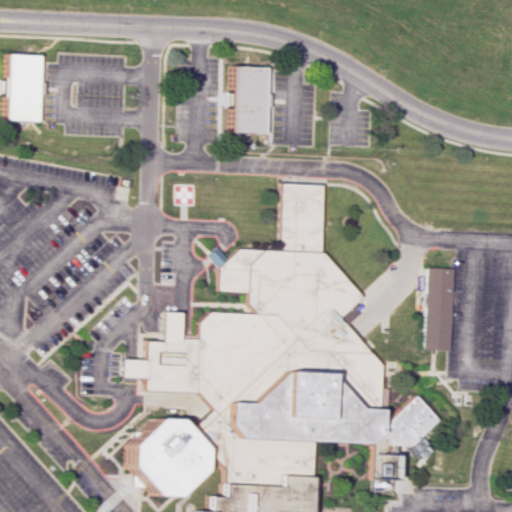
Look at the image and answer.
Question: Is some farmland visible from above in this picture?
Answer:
No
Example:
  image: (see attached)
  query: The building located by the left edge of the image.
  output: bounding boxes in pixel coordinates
[0,54,47,123]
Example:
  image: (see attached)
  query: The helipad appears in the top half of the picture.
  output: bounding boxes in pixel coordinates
[172,184,196,207]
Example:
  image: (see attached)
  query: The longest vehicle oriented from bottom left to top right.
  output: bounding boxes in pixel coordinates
[346,304,362,320]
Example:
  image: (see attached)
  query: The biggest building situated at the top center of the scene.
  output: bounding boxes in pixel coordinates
[219,66,273,134]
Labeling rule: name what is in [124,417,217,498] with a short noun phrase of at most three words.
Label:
building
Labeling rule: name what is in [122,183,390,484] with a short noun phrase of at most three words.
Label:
building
